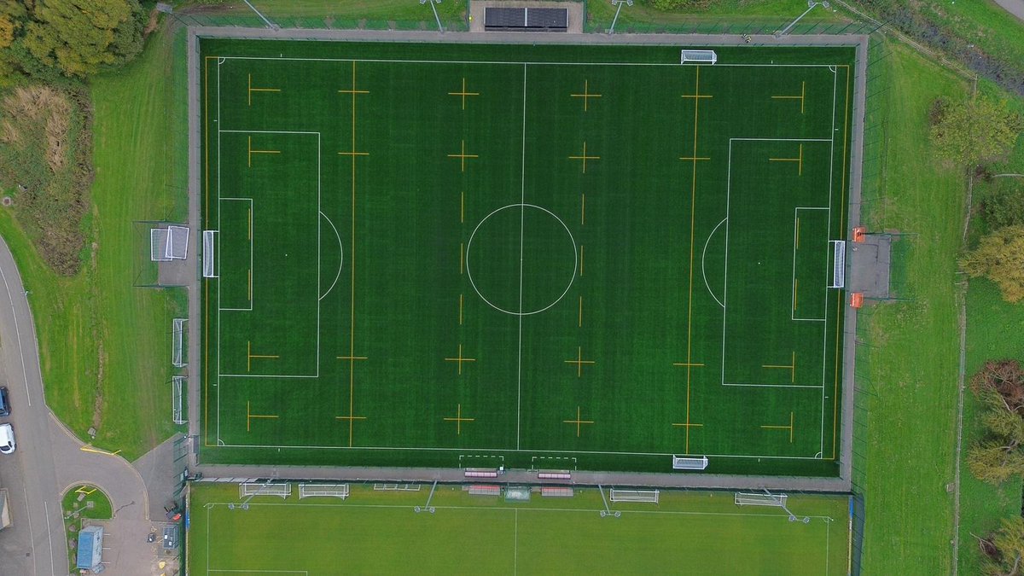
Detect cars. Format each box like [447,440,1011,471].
[0,424,15,454]
[0,388,10,416]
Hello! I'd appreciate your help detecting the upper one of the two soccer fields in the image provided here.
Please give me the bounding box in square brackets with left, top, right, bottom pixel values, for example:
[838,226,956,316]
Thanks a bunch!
[199,39,856,477]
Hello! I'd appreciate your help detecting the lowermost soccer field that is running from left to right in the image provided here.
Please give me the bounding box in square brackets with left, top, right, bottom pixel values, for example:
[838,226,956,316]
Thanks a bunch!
[187,479,851,576]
